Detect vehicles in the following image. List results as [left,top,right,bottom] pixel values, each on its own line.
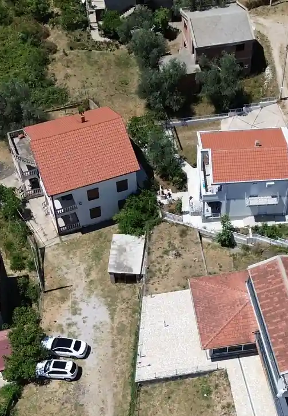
[36,330,87,356]
[34,355,79,381]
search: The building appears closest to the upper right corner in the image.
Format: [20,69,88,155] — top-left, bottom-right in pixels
[165,6,257,88]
